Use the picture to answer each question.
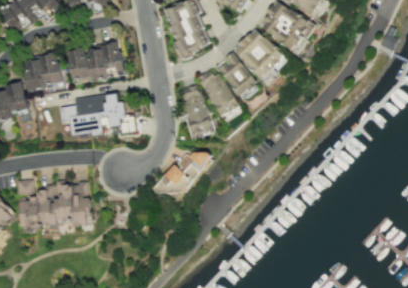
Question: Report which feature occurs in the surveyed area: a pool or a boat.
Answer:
boat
